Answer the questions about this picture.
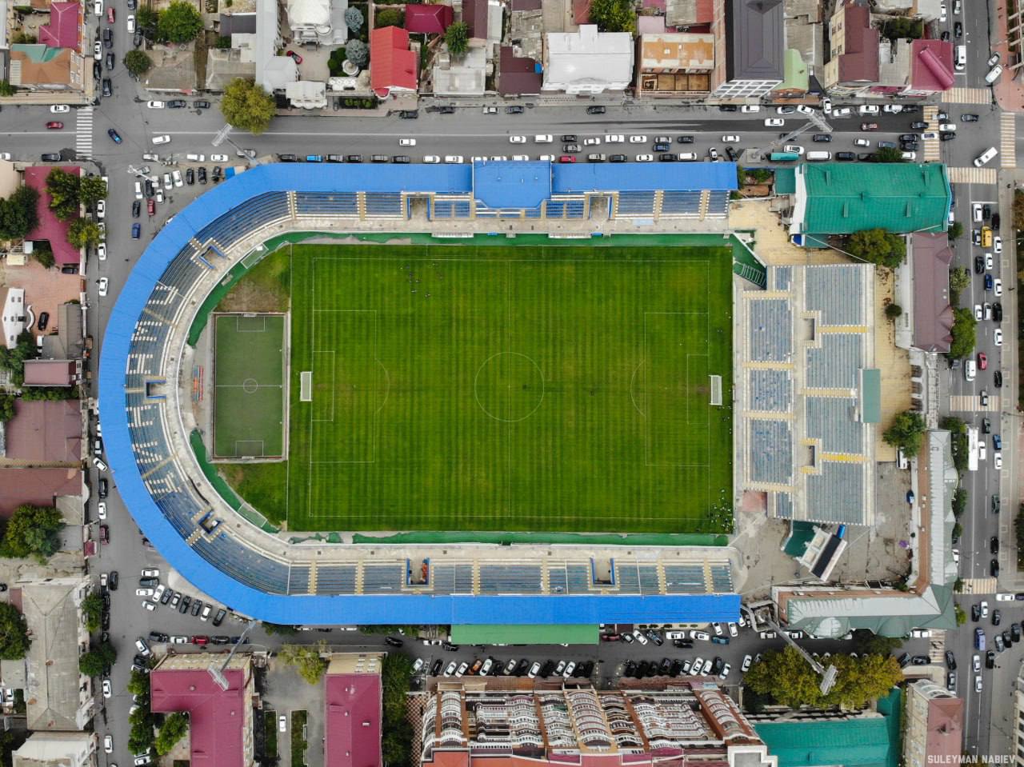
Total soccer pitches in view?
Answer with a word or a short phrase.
two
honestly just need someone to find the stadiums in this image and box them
[98,161,741,624]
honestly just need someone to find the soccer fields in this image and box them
[287,245,733,535]
[208,310,289,463]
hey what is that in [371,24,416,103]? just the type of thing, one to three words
house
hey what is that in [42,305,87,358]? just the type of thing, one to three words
building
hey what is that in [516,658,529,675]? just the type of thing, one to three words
vehicle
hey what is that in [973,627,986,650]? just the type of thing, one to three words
vehicle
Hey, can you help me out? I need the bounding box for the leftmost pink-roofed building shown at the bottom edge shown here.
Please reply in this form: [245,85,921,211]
[150,654,253,767]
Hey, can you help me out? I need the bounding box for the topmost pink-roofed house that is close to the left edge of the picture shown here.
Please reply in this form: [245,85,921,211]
[37,2,83,59]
